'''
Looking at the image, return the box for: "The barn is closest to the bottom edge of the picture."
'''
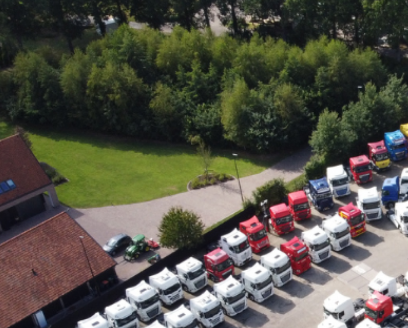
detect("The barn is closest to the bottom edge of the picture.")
[0,209,124,328]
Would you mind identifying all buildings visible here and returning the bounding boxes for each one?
[0,209,124,328]
[0,133,57,225]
